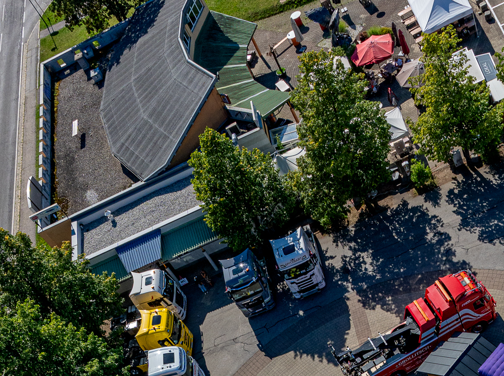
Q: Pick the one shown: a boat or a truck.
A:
truck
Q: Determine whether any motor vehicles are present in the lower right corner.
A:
Yes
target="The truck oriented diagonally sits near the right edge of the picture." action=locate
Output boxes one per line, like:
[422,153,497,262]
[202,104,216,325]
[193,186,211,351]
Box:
[319,266,498,376]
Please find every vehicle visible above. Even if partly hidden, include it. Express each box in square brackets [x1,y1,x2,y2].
[152,341,210,376]
[109,266,189,340]
[115,304,198,376]
[319,266,498,376]
[272,222,325,299]
[221,243,276,320]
